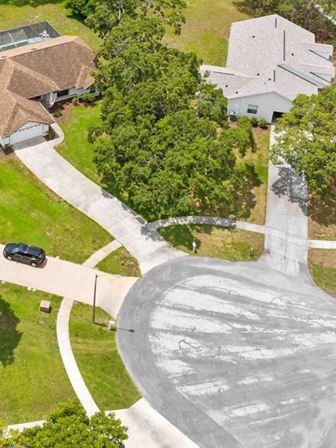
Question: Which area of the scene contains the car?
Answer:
left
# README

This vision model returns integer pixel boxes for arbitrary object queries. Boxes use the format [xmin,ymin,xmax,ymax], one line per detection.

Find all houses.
[201,14,336,123]
[0,35,107,152]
